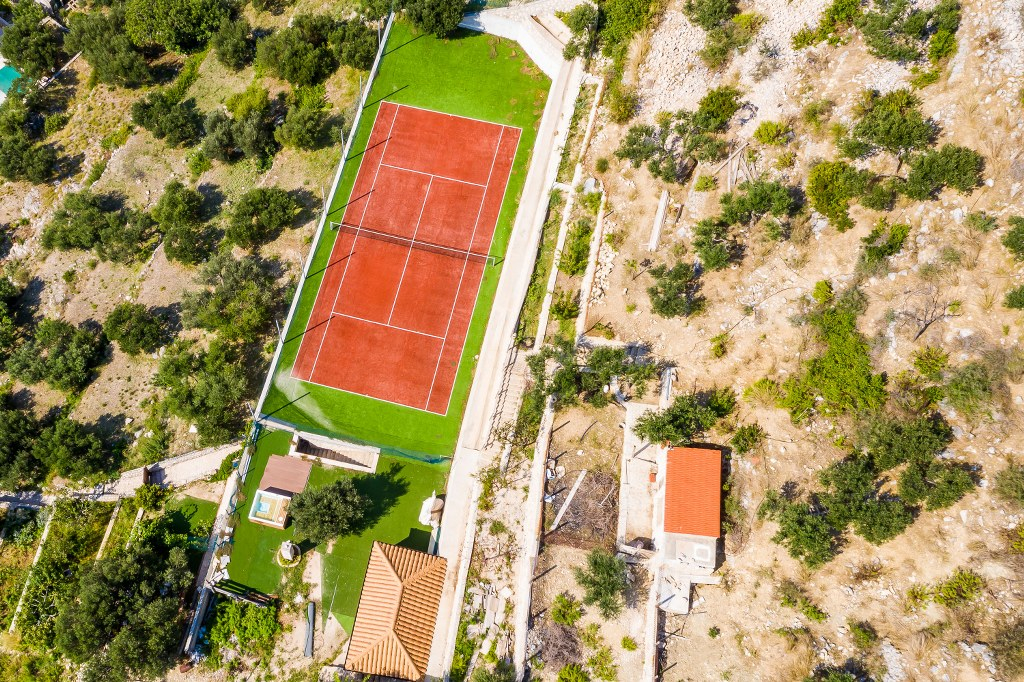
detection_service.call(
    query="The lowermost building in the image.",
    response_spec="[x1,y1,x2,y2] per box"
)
[343,538,448,682]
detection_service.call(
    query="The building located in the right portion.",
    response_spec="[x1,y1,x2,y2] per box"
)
[650,435,722,576]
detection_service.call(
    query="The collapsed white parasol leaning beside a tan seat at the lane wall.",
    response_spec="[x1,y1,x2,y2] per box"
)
[415,493,434,522]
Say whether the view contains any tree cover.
Yes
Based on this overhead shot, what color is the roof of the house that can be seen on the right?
orange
